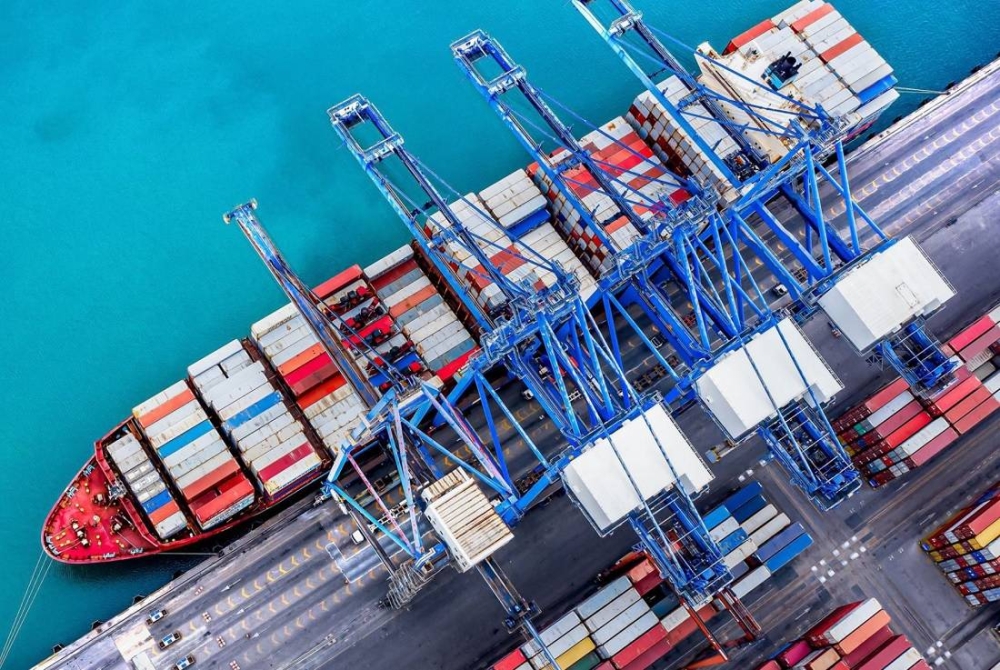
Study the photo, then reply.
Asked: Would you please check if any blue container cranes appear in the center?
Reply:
Yes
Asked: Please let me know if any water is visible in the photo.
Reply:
Yes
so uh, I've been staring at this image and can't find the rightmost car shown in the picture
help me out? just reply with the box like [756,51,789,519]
[944,211,962,227]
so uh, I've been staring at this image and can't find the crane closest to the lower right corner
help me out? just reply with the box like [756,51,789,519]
[583,527,766,670]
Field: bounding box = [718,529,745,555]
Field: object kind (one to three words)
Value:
shipping container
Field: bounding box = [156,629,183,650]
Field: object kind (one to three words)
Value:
car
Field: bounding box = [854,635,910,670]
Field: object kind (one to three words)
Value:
shipping container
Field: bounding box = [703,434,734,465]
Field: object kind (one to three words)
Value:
truck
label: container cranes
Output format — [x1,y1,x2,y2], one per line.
[583,527,766,670]
[226,197,564,670]
[450,31,854,515]
[569,0,960,403]
[327,95,732,608]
